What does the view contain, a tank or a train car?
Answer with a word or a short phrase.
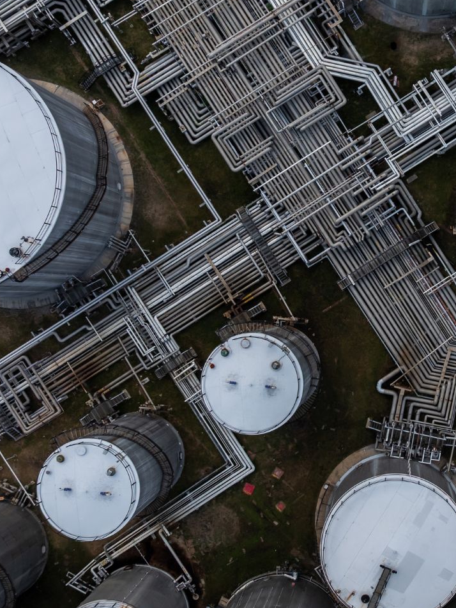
tank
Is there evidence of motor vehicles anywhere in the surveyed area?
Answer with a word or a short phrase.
No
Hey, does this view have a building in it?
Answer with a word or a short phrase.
No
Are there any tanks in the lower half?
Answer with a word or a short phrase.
Yes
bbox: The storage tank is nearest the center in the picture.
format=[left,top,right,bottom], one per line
[196,318,327,437]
